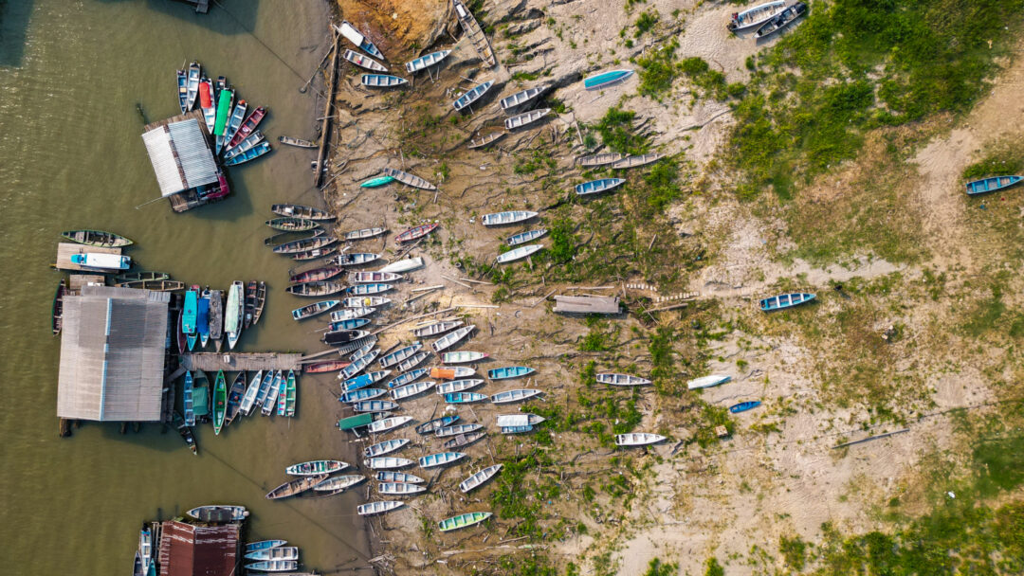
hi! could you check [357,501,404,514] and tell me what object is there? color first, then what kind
white boat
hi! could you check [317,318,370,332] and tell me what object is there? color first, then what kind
blue boat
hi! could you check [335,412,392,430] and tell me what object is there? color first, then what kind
green boat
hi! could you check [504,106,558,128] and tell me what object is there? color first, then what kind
white boat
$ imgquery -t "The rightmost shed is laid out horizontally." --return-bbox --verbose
[552,297,624,313]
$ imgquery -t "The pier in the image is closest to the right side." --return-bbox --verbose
[180,353,302,371]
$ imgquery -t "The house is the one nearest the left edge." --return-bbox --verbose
[57,286,181,437]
